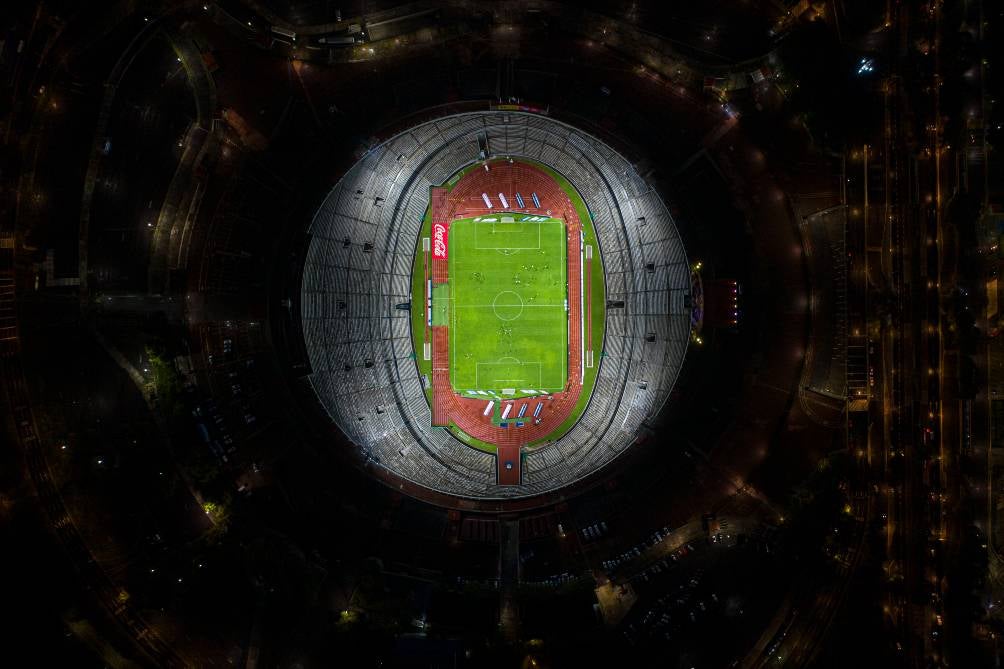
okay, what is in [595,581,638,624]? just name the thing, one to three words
building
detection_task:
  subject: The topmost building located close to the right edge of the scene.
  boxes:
[954,202,1004,242]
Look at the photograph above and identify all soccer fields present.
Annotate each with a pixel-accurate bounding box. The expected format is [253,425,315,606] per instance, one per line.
[449,213,567,398]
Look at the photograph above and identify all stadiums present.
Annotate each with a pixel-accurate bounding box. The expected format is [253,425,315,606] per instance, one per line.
[267,75,727,536]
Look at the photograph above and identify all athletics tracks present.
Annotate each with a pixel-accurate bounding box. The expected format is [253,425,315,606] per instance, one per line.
[432,161,581,444]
